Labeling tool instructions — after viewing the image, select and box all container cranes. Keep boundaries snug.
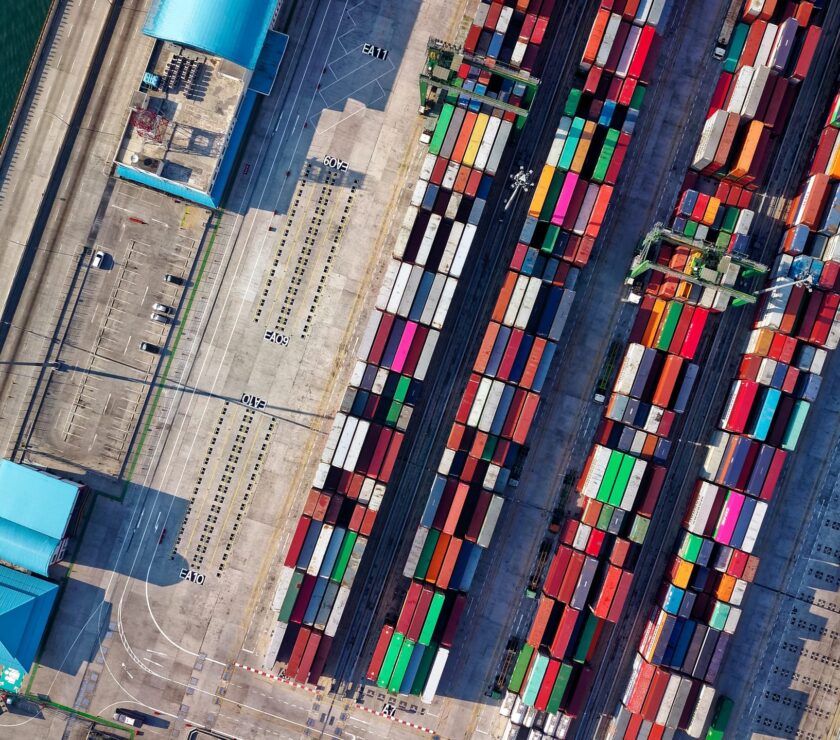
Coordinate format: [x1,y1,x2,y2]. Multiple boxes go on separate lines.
[610,213,773,323]
[411,30,544,162]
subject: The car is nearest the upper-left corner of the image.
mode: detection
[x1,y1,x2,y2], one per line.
[93,252,106,271]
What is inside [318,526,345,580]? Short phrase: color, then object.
blue shipping container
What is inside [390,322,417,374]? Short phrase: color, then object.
pink shipping container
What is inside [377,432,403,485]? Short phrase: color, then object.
red shipping container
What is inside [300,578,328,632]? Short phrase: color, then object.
blue shipping container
